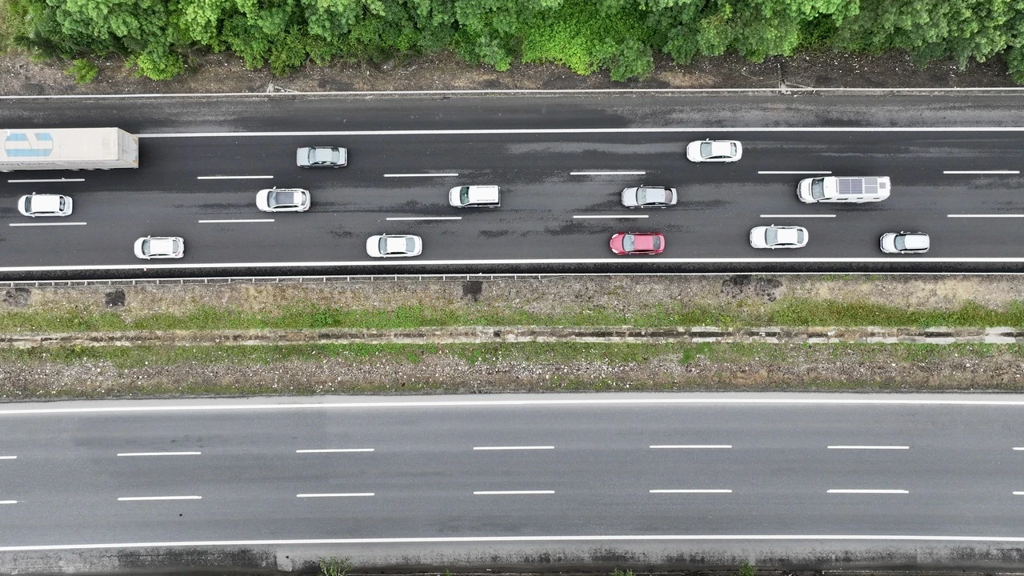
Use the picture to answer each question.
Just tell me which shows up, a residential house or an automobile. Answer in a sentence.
I can see an automobile in this picture.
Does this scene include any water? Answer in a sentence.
No, no water is visible.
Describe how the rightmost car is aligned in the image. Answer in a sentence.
From this overhead view, the rightmost car appears to run horizontally.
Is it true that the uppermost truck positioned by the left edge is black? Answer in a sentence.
No, the uppermost truck positioned by the left edge is white.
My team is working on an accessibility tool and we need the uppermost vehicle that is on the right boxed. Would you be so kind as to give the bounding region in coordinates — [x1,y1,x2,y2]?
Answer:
[685,137,743,164]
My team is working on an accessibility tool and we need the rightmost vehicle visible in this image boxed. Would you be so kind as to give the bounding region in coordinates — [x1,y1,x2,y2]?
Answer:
[878,229,930,256]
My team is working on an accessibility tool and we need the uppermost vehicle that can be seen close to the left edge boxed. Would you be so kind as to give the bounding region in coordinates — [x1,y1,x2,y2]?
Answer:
[0,127,141,172]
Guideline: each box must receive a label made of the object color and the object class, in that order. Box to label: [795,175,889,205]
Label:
white van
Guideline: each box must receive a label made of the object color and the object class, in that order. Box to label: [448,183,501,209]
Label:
white car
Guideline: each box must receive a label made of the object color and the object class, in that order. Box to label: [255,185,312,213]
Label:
white car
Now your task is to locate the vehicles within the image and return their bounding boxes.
[134,234,187,260]
[0,127,141,172]
[685,137,743,164]
[366,232,423,259]
[795,175,889,205]
[608,230,665,256]
[296,143,349,169]
[878,229,930,256]
[255,185,312,213]
[748,223,809,250]
[17,191,76,217]
[621,183,678,210]
[448,183,501,209]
